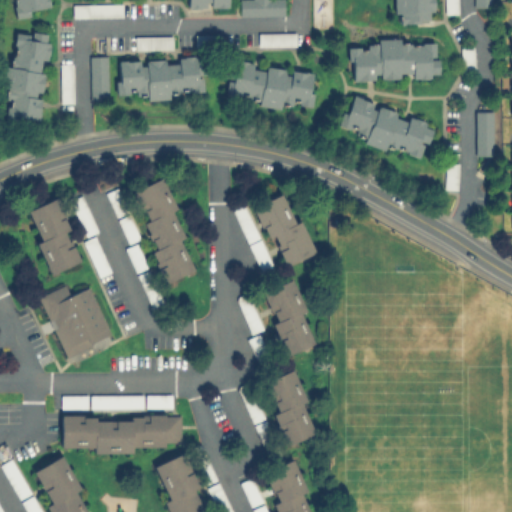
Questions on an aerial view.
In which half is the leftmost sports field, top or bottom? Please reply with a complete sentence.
The bottom half of the photo is where the leftmost sports field is.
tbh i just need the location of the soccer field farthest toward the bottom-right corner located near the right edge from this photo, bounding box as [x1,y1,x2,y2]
[468,366,512,512]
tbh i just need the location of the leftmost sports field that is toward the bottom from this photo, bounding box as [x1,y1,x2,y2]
[346,271,464,512]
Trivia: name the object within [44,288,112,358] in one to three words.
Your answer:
building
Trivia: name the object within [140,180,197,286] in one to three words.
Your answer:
building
